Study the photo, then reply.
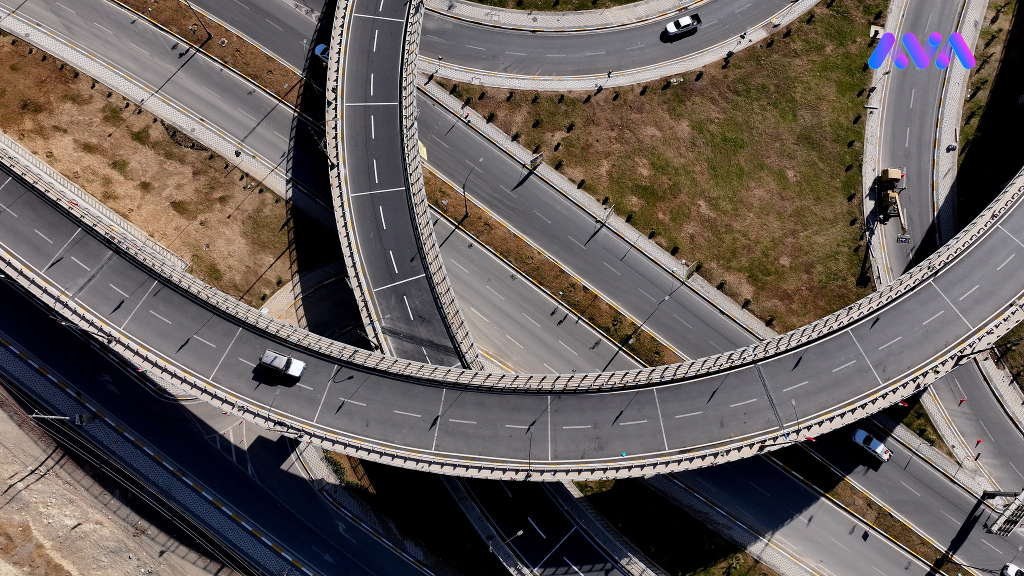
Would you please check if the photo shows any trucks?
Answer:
Yes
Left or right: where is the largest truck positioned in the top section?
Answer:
right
